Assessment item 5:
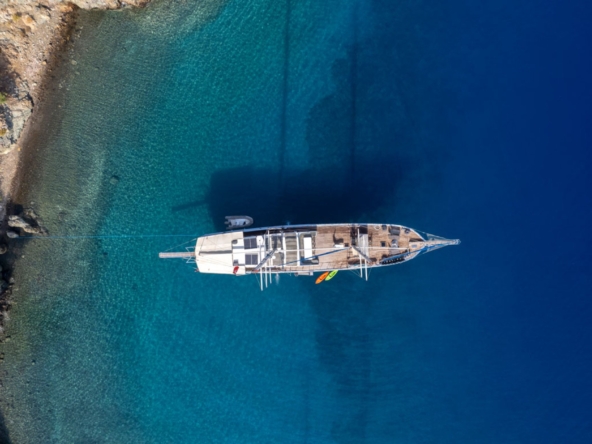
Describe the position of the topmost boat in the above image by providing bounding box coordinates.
[219,214,251,229]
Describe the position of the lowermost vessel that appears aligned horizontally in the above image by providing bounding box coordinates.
[161,223,465,289]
